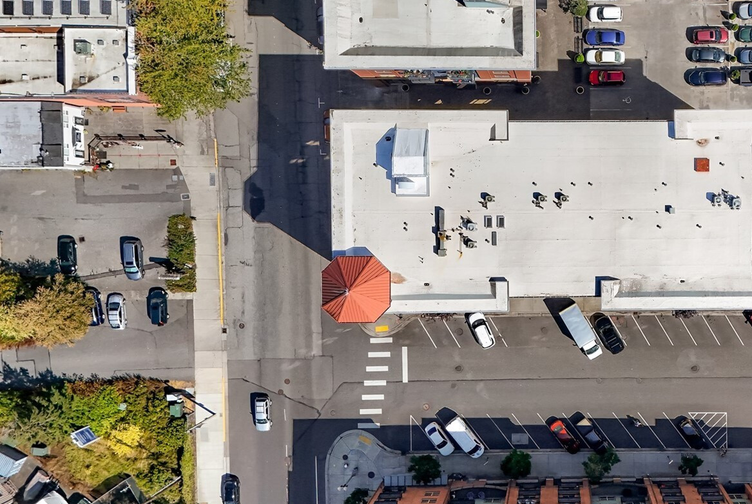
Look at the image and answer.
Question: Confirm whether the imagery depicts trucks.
Yes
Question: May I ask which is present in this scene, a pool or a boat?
boat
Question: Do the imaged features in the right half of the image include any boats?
No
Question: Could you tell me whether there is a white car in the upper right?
Yes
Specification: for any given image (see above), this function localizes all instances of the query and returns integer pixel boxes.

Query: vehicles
[674,412,707,449]
[467,314,495,350]
[692,26,729,44]
[585,48,624,65]
[687,69,726,87]
[690,45,725,64]
[423,419,454,456]
[547,416,579,452]
[324,107,341,145]
[737,1,752,20]
[571,411,608,454]
[252,393,273,431]
[593,312,623,354]
[738,69,752,86]
[736,46,752,64]
[737,24,752,43]
[148,288,170,325]
[557,302,603,365]
[632,416,643,430]
[86,287,107,325]
[58,237,80,275]
[444,411,485,460]
[585,28,624,46]
[588,5,623,23]
[122,238,144,279]
[107,293,128,329]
